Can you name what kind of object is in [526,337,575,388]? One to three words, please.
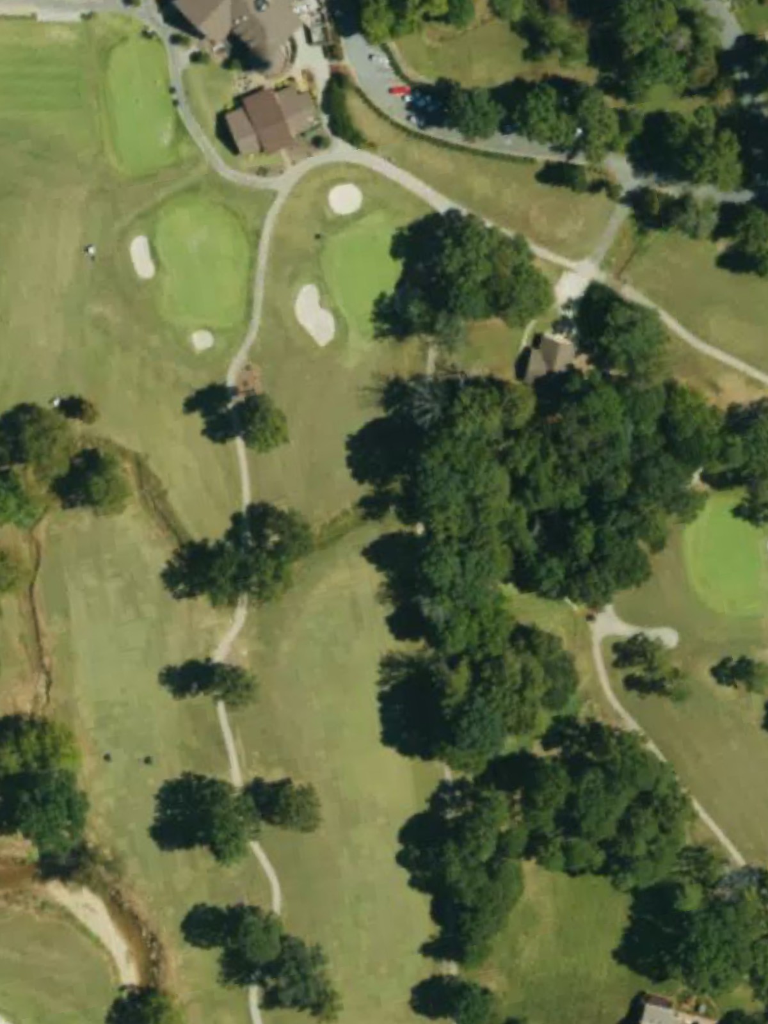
building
